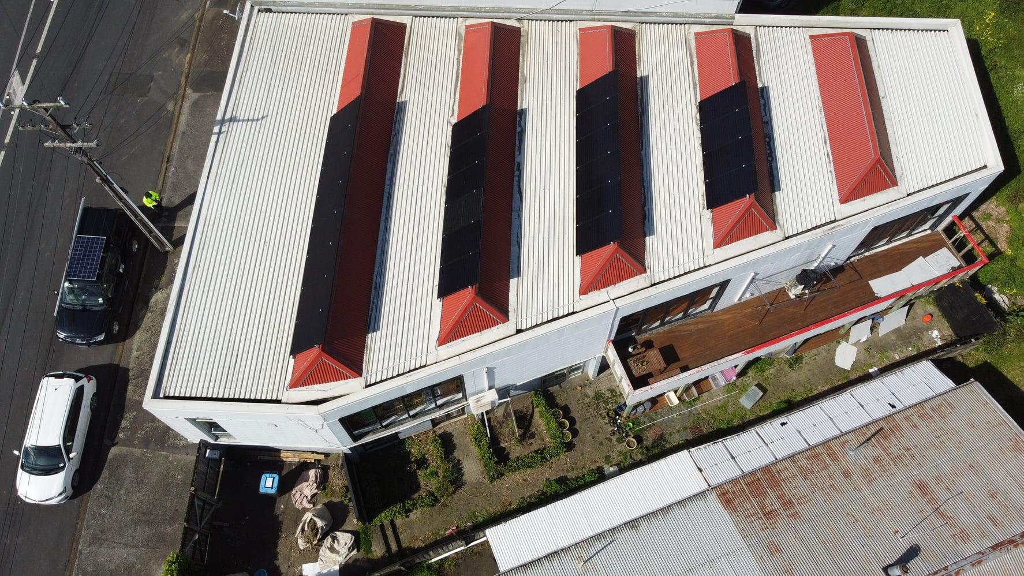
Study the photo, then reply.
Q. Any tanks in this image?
No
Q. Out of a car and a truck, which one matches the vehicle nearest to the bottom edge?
car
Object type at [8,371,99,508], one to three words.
car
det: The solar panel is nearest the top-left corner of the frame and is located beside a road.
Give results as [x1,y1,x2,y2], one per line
[66,239,106,282]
